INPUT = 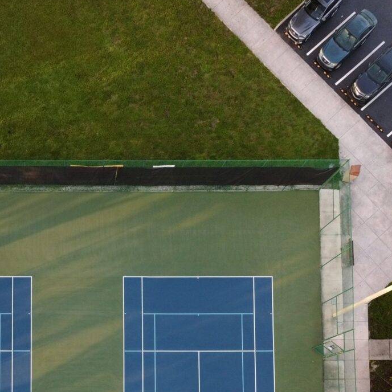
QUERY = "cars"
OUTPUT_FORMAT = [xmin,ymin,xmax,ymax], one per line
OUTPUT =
[351,51,392,109]
[286,0,350,46]
[318,11,383,74]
